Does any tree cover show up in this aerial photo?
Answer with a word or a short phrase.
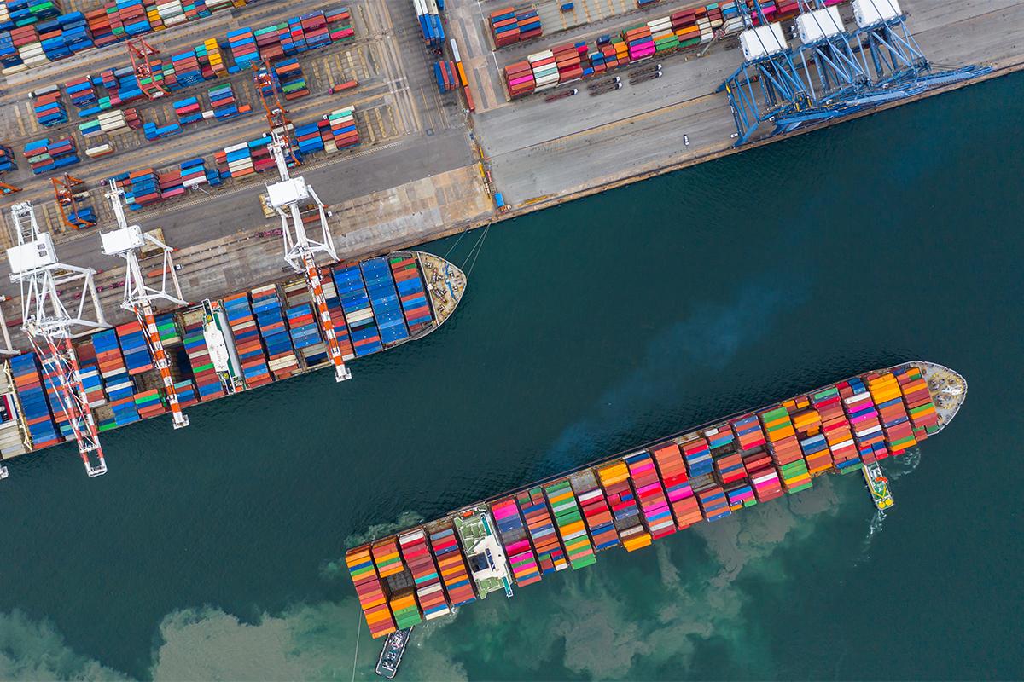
No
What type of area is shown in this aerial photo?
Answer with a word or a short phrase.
port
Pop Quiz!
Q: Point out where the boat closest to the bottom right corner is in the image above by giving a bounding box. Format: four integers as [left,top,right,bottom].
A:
[866,461,896,514]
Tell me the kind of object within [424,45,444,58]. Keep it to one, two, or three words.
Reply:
vehicle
